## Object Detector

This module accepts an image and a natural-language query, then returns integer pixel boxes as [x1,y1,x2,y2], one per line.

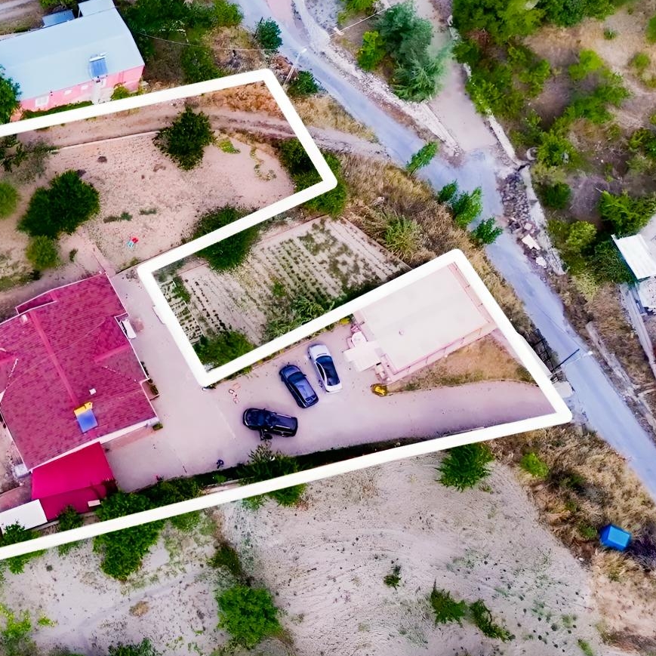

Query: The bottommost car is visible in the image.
[242,406,300,447]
